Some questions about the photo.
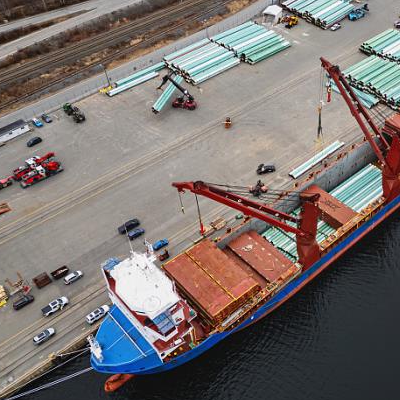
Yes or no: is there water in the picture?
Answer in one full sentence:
Yes, water shows up in the scene.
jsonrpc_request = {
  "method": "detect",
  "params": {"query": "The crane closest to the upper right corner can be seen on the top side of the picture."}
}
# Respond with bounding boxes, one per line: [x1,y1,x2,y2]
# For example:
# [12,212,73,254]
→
[312,59,400,200]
